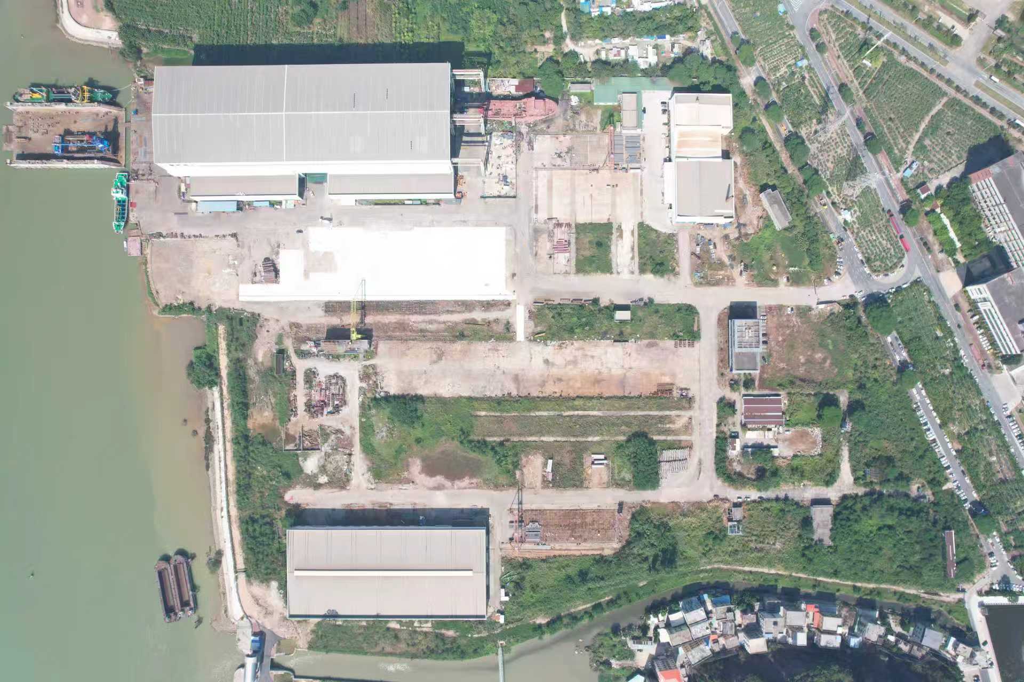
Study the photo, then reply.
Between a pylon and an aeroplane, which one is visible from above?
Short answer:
pylon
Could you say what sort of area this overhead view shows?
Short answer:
port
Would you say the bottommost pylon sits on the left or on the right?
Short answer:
right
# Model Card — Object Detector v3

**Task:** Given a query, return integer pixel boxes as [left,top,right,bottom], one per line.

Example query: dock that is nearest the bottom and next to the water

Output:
[128,213,142,256]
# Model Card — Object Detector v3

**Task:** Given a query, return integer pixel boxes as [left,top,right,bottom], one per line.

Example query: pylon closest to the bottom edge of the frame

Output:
[839,173,883,201]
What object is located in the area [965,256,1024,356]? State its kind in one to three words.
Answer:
building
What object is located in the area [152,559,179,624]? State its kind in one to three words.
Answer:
ship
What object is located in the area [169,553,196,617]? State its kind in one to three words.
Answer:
ship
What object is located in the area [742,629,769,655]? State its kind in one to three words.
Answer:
house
